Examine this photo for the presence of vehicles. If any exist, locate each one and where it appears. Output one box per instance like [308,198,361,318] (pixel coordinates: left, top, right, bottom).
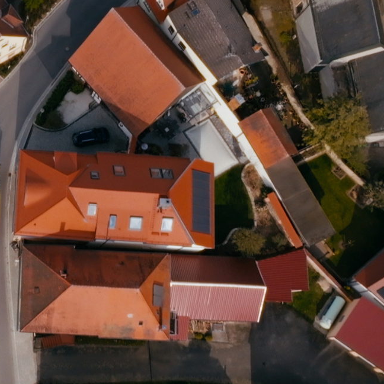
[71,127,111,148]
[312,293,348,333]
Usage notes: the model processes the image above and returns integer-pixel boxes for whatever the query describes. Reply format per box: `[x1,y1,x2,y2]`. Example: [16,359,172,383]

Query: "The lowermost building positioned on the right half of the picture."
[327,297,384,372]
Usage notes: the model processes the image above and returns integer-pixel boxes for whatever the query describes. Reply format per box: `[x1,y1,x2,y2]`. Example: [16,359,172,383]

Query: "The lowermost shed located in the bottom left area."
[41,335,74,348]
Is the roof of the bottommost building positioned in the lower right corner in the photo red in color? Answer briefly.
Yes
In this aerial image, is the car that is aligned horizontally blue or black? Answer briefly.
black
